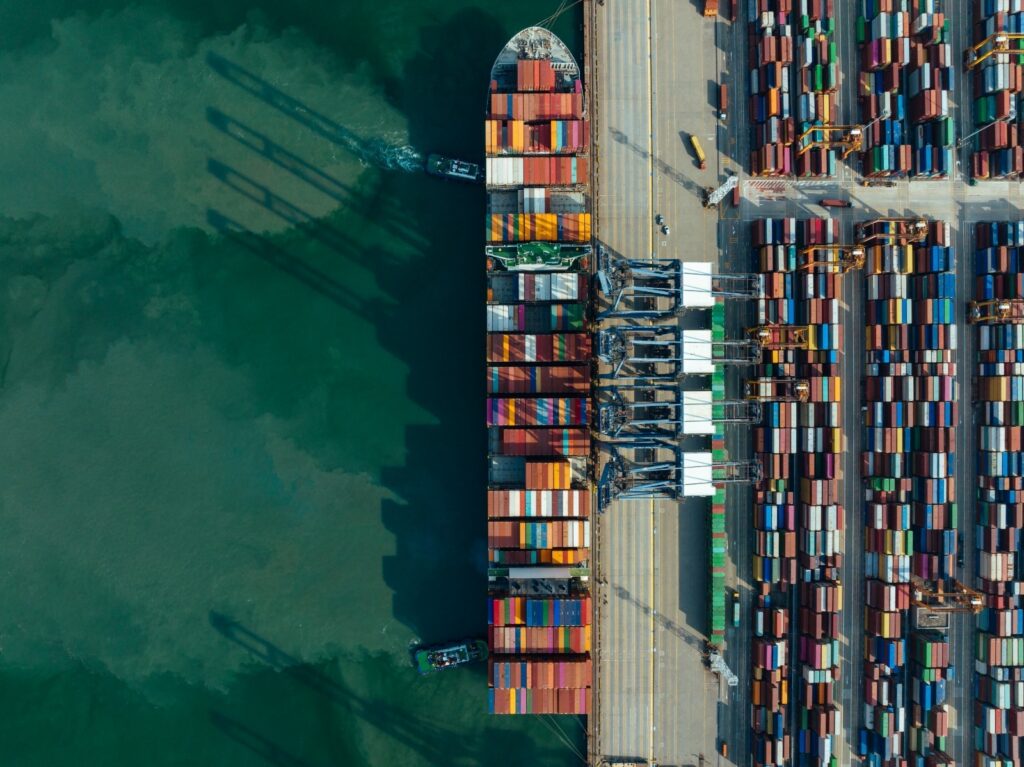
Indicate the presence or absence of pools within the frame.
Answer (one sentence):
No, no pool can be seen from above.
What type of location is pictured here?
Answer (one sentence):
The area seen from above is a port.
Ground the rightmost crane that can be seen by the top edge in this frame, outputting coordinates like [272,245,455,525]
[957,33,1024,79]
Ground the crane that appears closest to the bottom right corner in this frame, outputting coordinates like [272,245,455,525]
[913,579,990,611]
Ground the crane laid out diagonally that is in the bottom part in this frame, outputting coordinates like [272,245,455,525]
[699,637,738,686]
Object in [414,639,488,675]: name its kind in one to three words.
boat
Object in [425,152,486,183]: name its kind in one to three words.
boat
